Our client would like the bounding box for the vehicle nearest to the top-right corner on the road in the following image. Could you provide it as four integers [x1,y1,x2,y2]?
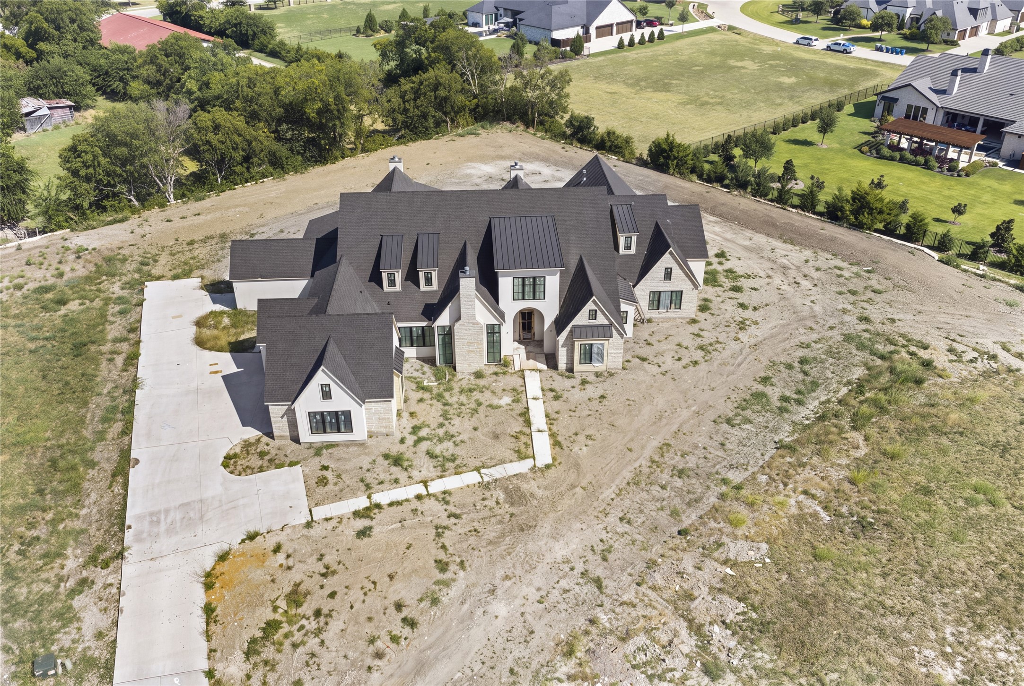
[825,39,860,53]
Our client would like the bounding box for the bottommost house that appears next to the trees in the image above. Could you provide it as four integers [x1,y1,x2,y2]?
[229,151,711,444]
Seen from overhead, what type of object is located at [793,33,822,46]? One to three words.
vehicle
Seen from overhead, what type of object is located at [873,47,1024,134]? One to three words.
house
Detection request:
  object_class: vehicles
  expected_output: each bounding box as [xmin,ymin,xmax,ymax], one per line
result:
[648,15,670,25]
[639,16,654,27]
[825,39,860,53]
[793,33,822,46]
